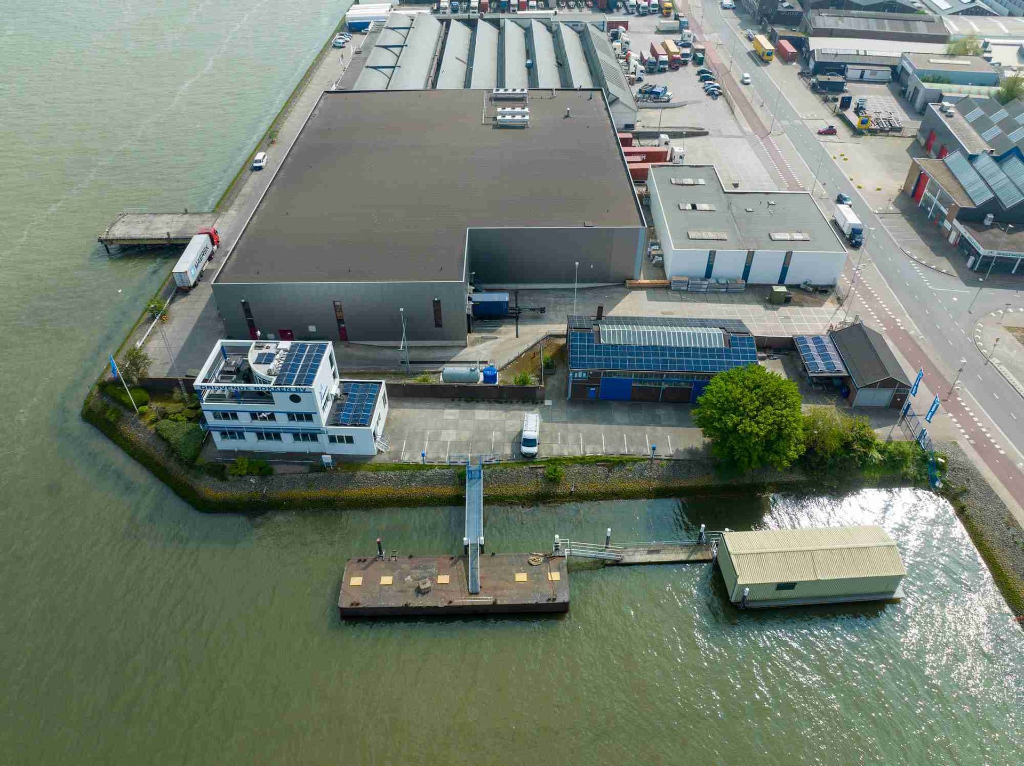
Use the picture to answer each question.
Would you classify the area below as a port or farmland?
port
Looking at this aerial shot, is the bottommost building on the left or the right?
right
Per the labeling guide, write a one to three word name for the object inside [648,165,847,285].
building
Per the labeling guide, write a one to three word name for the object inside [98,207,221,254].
pier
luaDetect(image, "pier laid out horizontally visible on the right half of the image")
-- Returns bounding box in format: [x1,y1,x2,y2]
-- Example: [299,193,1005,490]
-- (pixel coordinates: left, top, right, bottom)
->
[622,537,719,565]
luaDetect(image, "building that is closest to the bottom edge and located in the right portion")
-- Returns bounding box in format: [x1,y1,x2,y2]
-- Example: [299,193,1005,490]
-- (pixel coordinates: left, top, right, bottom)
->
[719,524,906,612]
